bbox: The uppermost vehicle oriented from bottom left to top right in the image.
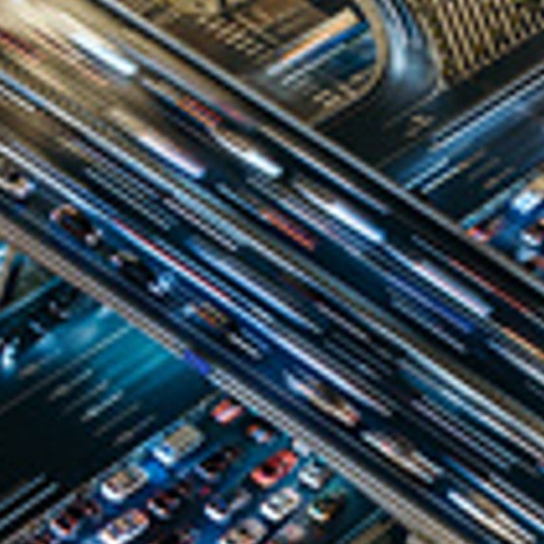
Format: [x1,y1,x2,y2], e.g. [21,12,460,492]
[275,3,360,77]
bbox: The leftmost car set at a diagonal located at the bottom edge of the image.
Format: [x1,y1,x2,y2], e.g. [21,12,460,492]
[48,495,98,537]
